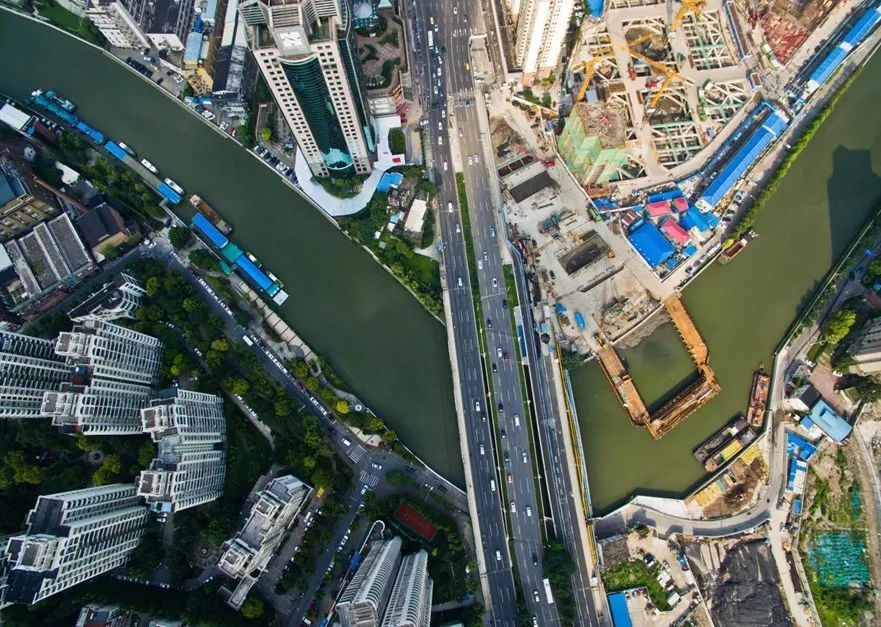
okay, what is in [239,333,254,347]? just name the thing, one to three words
vehicle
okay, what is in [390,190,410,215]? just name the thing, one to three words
shed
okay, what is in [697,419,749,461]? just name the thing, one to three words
ship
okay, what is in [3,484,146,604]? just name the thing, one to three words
building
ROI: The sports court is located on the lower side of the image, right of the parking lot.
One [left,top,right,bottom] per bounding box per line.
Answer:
[385,495,444,550]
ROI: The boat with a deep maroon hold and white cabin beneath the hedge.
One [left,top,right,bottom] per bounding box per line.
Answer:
[722,231,757,262]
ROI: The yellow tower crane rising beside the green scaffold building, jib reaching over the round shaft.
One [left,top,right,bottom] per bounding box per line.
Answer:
[568,30,657,102]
